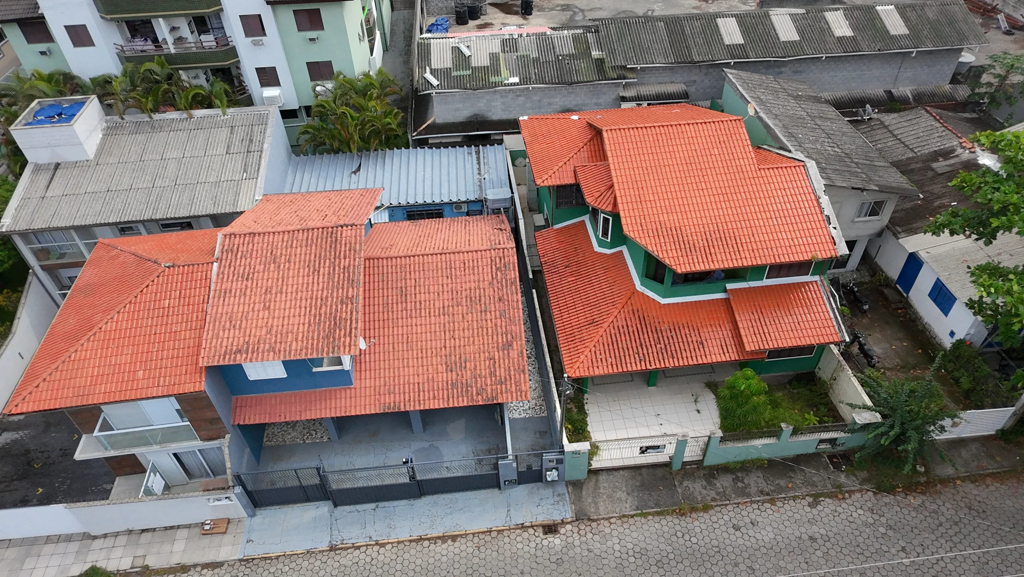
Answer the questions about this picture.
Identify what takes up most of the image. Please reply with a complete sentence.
The largest share of the image is taken up by buildings.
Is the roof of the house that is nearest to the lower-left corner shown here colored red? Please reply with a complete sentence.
Yes, the roof of the house that is nearest to the lower-left corner appears red.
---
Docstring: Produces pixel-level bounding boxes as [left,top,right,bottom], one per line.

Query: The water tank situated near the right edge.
[949,60,980,83]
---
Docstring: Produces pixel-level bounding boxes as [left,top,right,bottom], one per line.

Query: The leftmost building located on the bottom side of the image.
[0,230,229,486]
